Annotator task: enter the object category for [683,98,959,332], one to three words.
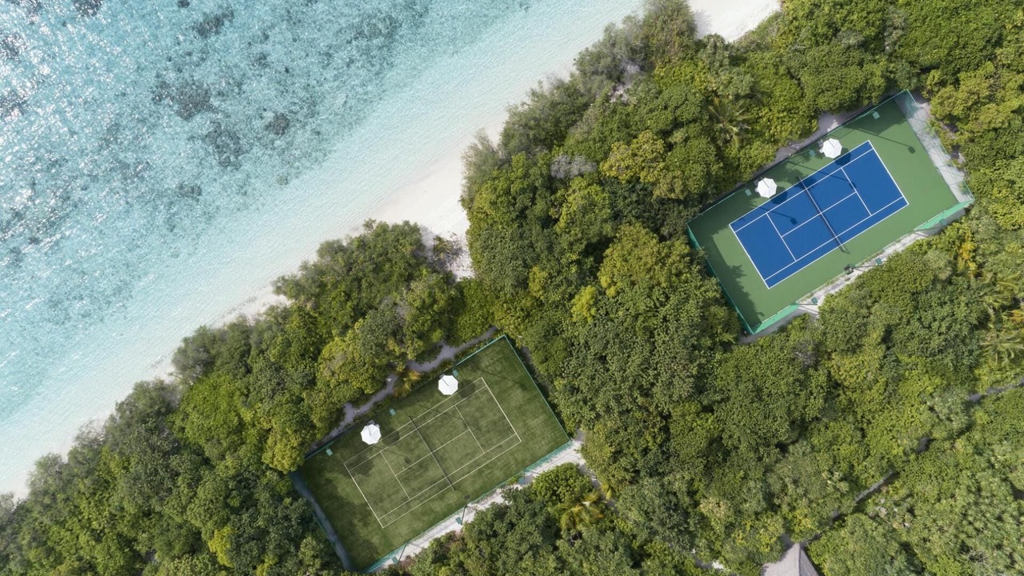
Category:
tennis court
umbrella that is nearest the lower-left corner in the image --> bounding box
[360,414,382,445]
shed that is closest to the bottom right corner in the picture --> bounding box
[740,540,817,576]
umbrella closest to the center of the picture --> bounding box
[438,371,459,395]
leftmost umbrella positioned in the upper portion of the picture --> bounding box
[749,176,777,199]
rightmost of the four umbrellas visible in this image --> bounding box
[812,137,842,159]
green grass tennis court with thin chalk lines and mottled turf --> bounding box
[294,334,570,570]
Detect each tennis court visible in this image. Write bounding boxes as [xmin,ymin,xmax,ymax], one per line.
[294,334,570,570]
[683,98,959,332]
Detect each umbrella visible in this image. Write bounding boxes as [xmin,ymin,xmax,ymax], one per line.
[360,414,382,445]
[749,176,777,199]
[438,371,459,395]
[812,137,842,159]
